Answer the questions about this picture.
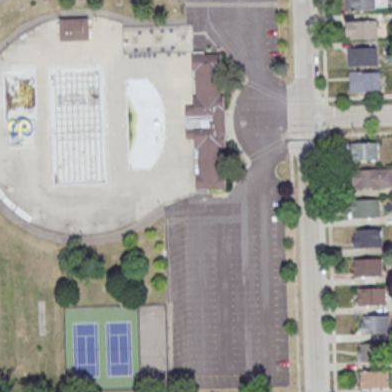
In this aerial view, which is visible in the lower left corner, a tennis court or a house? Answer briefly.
tennis court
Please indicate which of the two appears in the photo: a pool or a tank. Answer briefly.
pool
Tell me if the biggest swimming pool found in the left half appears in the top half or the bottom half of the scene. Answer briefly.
top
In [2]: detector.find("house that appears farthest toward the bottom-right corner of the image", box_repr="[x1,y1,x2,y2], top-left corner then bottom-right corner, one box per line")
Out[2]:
[358,372,390,392]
